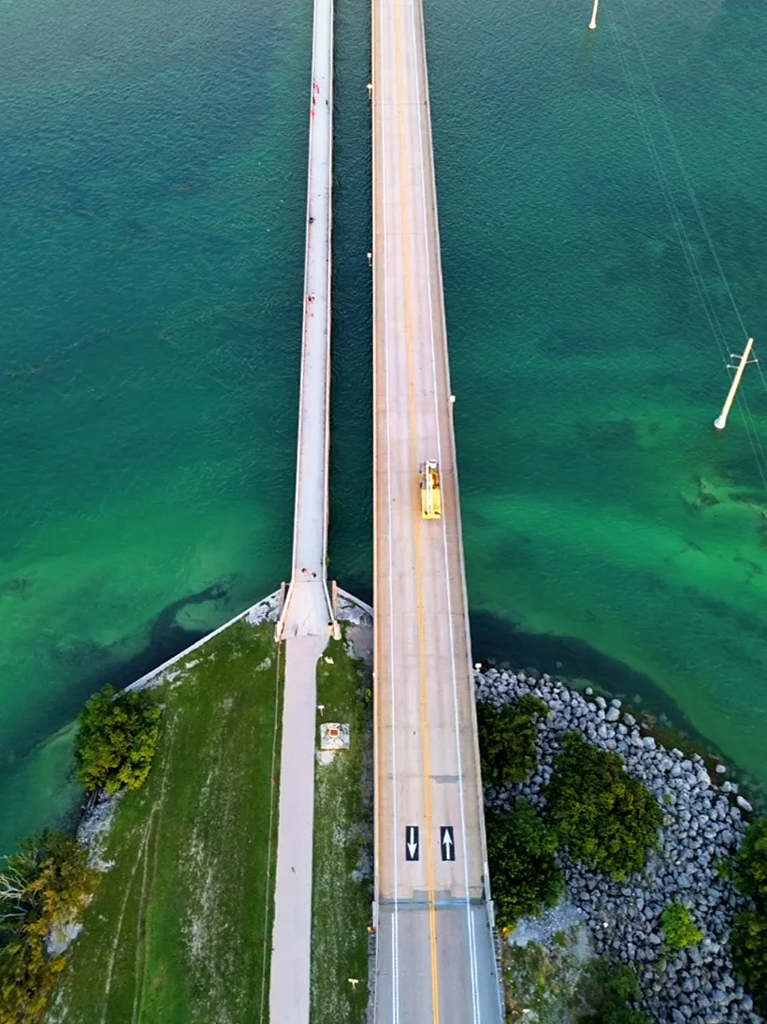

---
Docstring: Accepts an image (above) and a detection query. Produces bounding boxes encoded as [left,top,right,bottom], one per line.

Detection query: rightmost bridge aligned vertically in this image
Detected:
[371,0,497,932]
